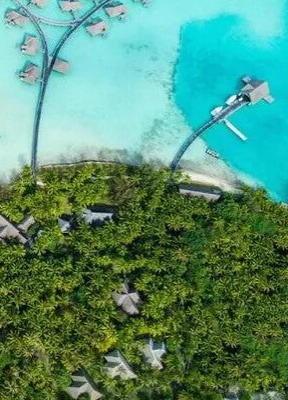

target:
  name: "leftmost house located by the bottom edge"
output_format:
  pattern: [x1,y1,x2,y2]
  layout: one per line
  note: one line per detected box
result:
[67,372,97,400]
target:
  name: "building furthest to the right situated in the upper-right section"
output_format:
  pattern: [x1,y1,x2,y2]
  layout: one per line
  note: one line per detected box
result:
[238,75,269,103]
